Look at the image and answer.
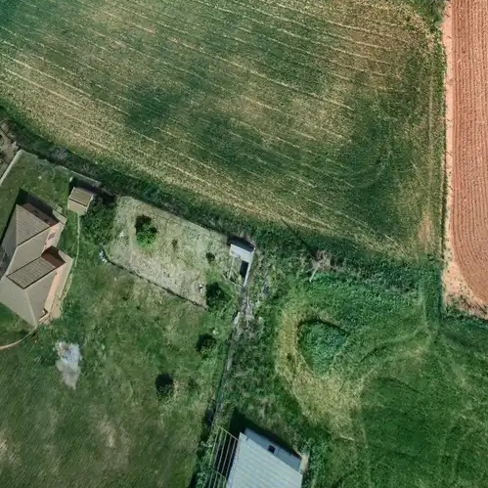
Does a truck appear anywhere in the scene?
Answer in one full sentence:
No, there isn't any truck down there.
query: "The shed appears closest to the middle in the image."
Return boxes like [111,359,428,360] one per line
[229,239,260,262]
